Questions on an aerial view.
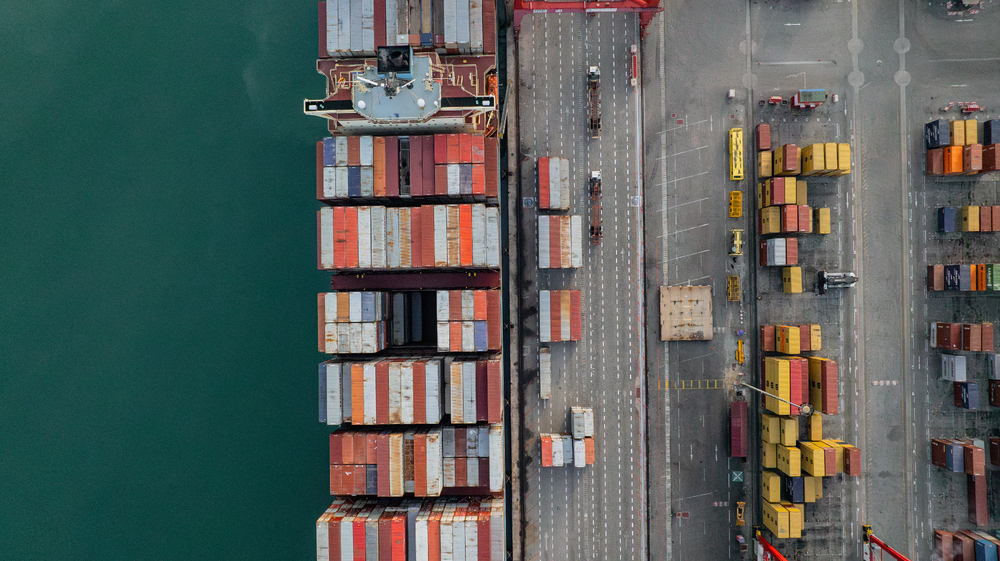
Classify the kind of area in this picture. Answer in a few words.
port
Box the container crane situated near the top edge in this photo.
[513,0,664,44]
